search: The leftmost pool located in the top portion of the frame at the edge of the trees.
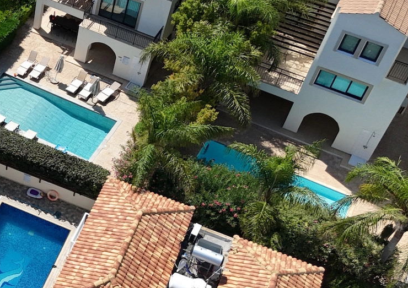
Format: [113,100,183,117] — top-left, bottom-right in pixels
[0,67,128,160]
